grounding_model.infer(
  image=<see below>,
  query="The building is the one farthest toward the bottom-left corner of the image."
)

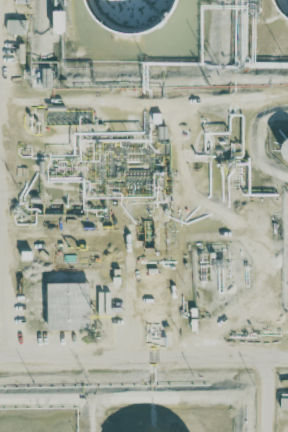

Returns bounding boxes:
[48,282,90,330]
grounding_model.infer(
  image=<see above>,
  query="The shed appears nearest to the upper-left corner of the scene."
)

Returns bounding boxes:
[7,19,28,34]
